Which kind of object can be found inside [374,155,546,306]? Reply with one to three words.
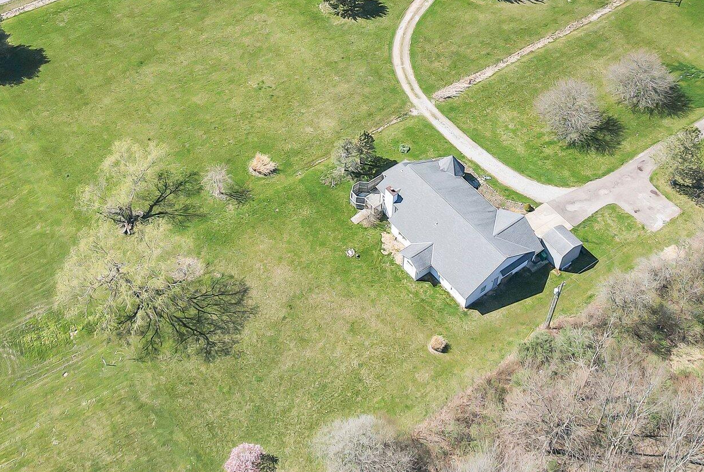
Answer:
house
